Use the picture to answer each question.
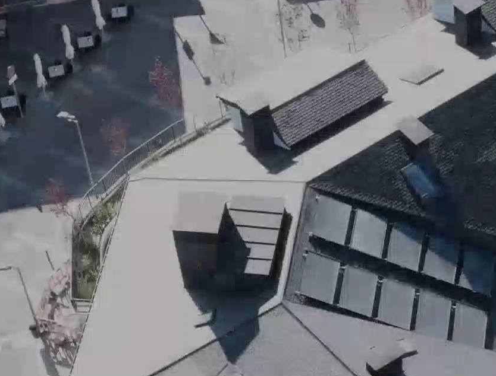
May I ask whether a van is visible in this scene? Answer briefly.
No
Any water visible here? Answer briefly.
No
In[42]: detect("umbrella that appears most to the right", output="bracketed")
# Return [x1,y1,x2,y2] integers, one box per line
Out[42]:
[94,0,110,36]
